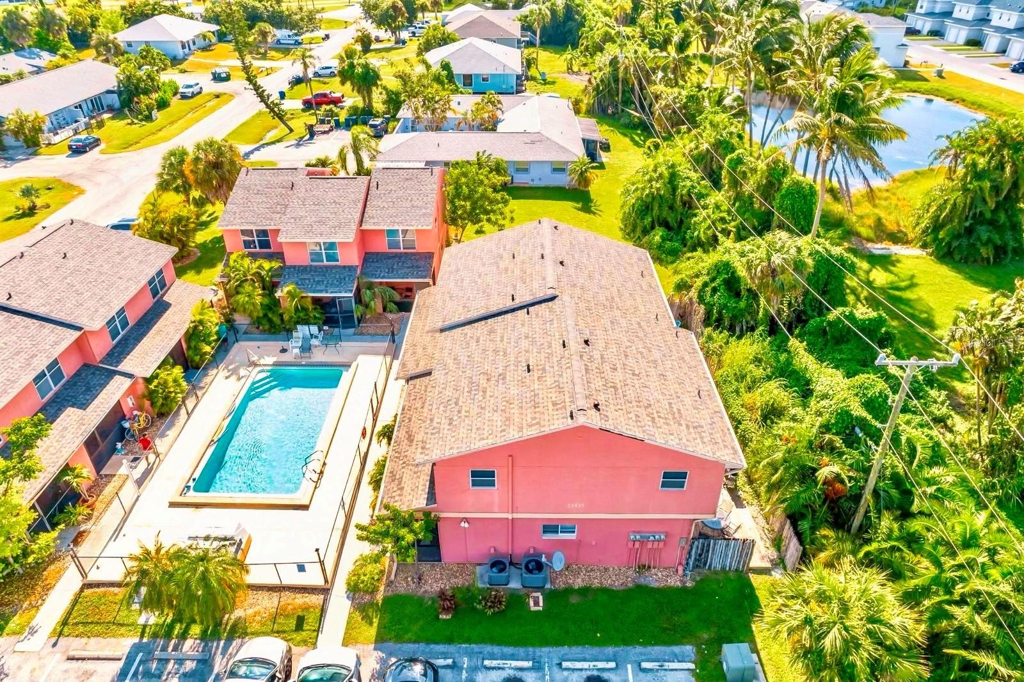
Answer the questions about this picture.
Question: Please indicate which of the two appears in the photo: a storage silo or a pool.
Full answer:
I can see a pool in this picture.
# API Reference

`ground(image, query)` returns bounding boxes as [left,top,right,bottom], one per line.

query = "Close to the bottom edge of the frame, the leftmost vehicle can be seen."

[206,639,291,682]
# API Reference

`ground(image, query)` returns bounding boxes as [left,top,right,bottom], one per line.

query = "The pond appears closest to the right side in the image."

[747,92,986,194]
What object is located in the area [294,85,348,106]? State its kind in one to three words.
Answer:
truck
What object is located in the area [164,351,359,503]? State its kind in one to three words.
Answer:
swimming pool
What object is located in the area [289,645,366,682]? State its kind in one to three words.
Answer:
car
